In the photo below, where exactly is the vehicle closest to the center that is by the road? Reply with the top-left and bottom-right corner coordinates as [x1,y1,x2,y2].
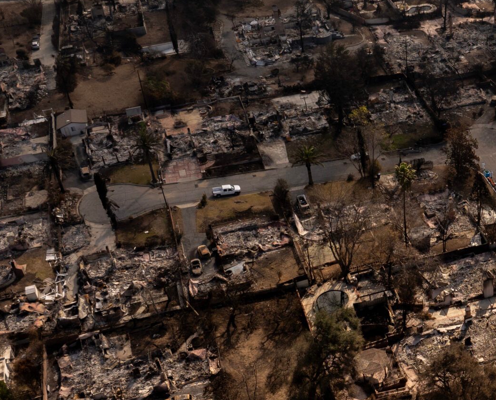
[211,186,241,199]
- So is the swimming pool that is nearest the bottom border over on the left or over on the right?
right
